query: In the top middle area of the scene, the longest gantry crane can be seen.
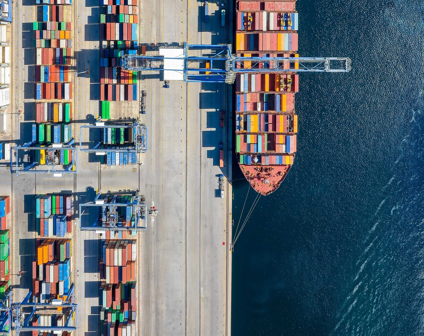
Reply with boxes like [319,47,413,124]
[122,39,355,89]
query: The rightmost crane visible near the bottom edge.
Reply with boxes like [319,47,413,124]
[9,299,77,335]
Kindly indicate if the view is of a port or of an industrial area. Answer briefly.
port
